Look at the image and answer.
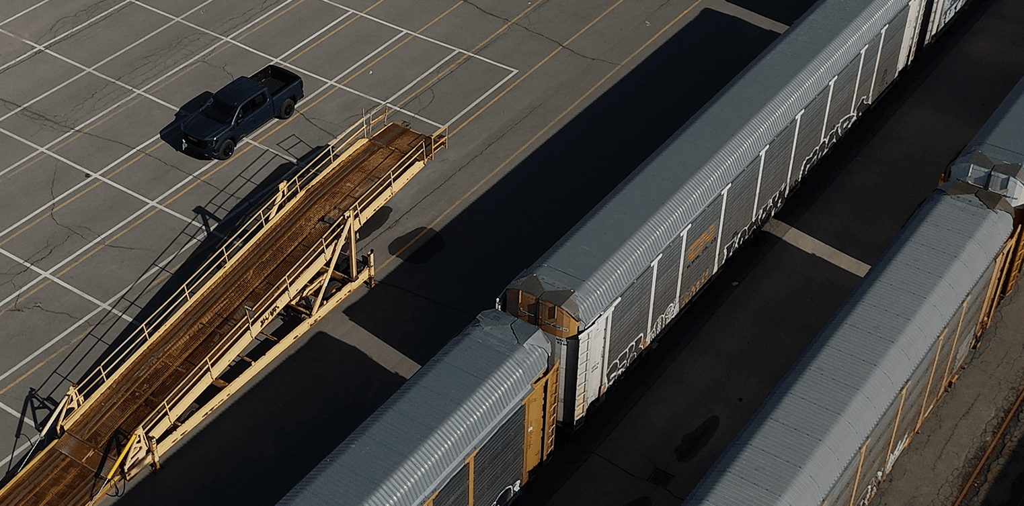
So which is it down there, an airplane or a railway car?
railway car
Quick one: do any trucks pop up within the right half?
No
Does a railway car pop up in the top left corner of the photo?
No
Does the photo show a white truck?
No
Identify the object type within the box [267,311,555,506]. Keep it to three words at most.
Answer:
rail car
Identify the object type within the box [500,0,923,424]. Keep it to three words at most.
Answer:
rail car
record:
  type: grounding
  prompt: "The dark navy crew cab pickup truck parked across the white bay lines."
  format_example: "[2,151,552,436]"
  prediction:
[177,64,305,158]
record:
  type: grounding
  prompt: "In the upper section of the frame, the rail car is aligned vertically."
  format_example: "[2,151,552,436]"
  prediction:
[937,74,1024,302]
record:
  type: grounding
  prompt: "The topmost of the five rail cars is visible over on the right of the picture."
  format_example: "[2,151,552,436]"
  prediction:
[913,0,964,53]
